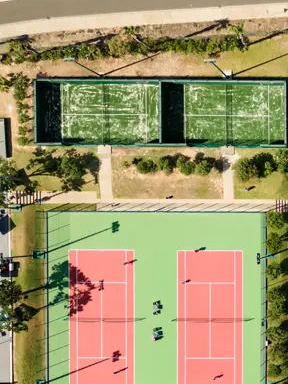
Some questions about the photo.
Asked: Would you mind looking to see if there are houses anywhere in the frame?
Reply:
No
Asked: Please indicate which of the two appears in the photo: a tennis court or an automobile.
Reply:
tennis court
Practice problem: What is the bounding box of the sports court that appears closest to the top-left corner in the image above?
[34,79,165,149]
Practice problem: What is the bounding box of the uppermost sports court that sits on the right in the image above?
[161,79,288,149]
